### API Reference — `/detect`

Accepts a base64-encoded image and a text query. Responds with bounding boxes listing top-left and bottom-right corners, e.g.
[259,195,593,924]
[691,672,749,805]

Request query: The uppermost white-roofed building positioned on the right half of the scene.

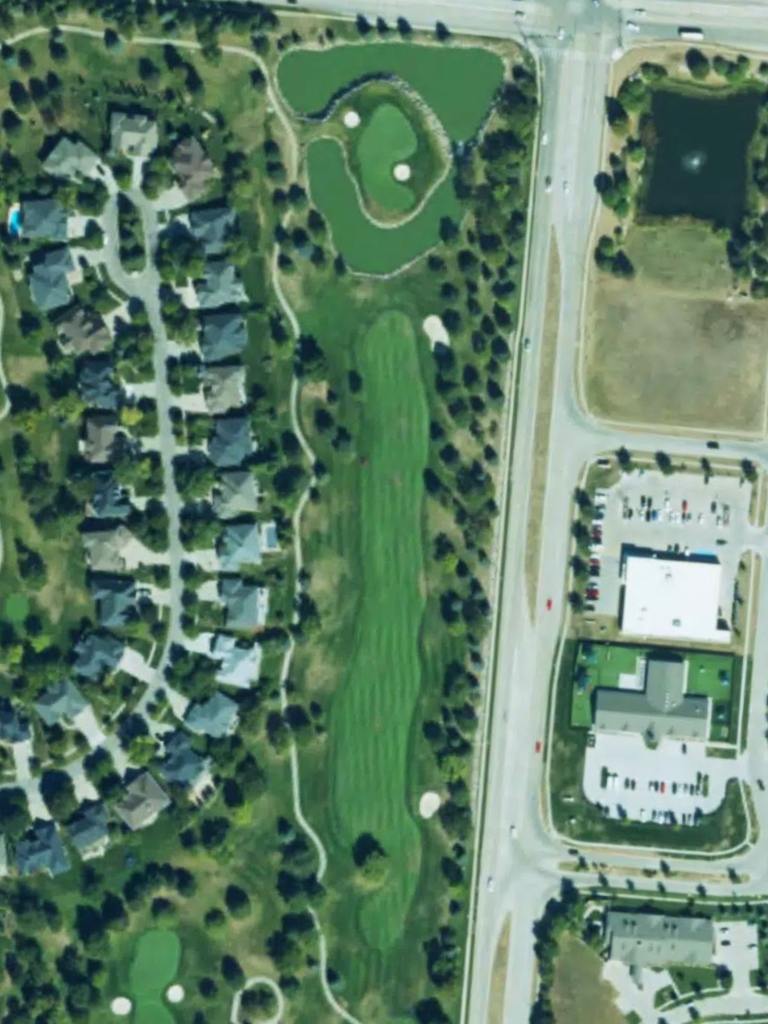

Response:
[620,552,731,642]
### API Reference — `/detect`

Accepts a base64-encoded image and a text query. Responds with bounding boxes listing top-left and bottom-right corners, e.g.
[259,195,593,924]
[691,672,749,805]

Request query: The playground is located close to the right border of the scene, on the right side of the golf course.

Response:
[572,644,733,742]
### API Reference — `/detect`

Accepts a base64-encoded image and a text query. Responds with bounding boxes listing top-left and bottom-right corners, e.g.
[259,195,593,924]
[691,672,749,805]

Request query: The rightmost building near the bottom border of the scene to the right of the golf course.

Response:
[607,912,713,991]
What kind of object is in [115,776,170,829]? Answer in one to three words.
house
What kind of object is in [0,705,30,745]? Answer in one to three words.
house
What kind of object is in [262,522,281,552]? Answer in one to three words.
swimming pool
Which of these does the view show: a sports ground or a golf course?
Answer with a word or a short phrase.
golf course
